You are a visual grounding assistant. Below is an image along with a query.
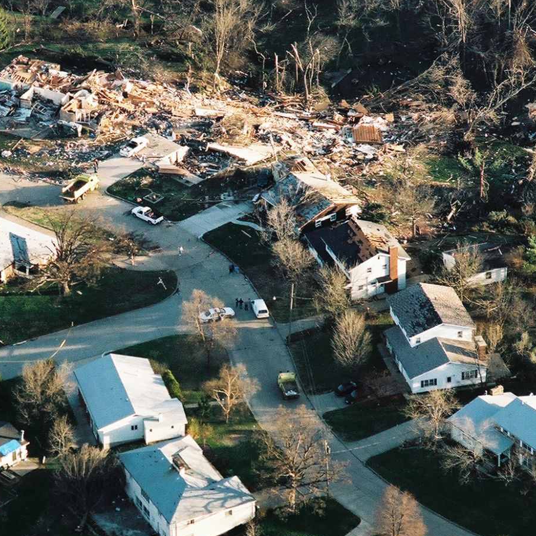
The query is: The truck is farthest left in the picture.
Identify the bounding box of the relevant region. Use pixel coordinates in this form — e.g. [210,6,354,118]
[59,171,101,203]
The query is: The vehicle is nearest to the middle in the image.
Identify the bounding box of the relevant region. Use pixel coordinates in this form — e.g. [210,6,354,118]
[251,297,271,321]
